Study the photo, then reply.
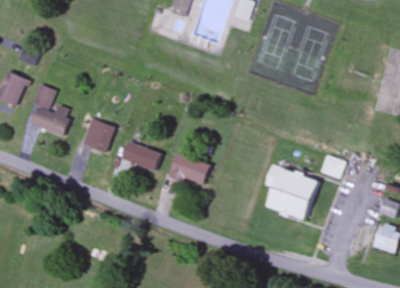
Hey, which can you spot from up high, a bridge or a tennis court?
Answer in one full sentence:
There is a tennis court in the scene.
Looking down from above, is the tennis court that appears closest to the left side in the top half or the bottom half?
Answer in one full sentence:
Seen from above, the tennis court that appears closest to the left side lies in the top half of the view.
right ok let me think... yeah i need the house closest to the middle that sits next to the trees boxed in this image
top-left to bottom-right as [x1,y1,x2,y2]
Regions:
[169,154,210,184]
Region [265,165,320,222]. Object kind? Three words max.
building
